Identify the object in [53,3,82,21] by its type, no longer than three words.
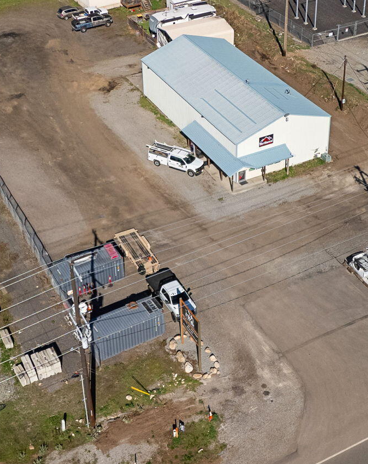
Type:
car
